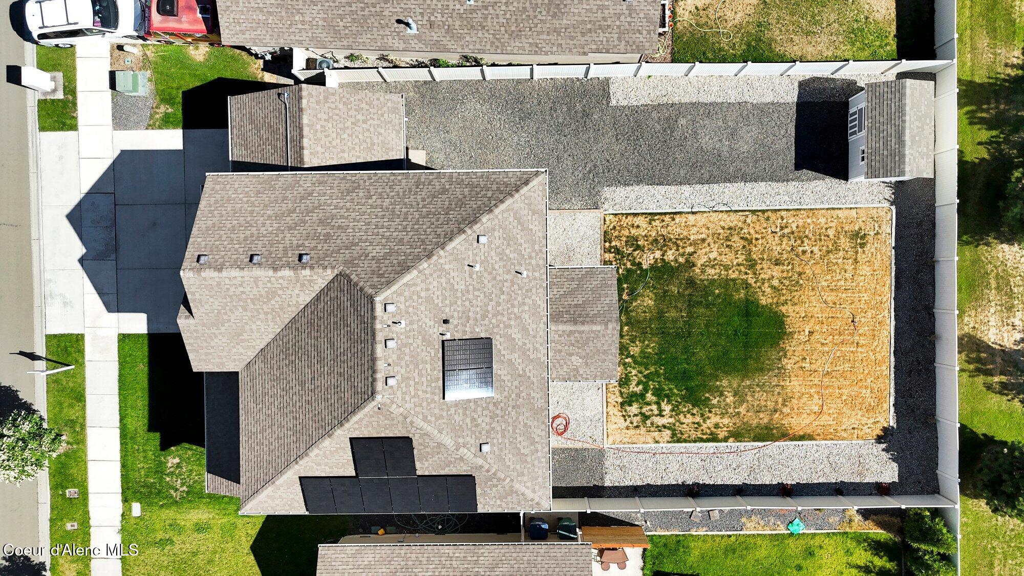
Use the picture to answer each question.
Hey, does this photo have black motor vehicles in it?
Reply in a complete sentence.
No, there appears to be no black motor vehicle in this shot.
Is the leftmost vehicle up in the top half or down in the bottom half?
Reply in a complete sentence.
Seen from above, the leftmost vehicle lies in the top half of the view.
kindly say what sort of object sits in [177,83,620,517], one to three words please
house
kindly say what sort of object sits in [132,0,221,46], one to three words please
truck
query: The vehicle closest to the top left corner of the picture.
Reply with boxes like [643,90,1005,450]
[25,0,135,48]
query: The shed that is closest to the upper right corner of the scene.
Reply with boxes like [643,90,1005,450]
[848,79,935,182]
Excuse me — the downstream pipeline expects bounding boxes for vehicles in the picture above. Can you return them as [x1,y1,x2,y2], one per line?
[25,0,135,48]
[132,0,221,46]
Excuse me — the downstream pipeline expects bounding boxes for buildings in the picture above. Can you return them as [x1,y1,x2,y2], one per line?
[214,0,660,60]
[177,83,620,517]
[848,79,935,182]
[315,533,593,576]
